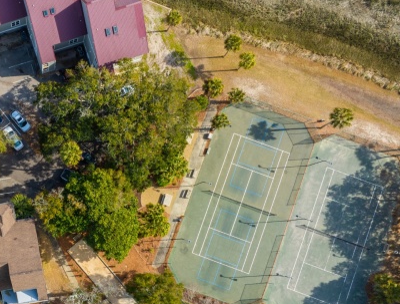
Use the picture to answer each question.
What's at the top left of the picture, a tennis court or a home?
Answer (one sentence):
Visible at the top left of the picture is a home.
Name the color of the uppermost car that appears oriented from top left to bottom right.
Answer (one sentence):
In this view, the uppermost car that appears oriented from top left to bottom right is blue.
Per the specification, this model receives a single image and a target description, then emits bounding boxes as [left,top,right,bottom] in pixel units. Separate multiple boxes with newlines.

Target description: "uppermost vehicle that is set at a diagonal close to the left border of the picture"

[9,109,31,134]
